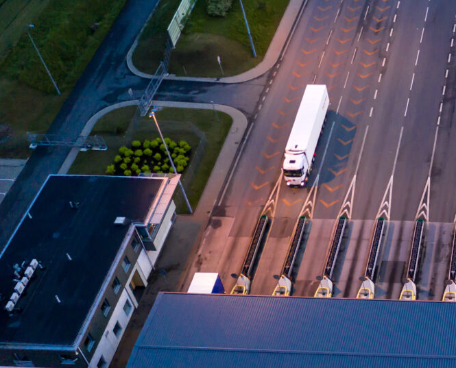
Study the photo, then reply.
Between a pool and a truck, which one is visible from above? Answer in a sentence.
Of the two, only a truck appears.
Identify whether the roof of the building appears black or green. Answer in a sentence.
The color of the roof of the building is black.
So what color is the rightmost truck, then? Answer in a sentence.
The color of the rightmost truck is white.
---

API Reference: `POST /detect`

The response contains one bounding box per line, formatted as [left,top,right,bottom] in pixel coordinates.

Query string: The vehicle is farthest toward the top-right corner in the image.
[279,90,329,196]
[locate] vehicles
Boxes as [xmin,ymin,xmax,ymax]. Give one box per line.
[279,90,329,196]
[188,272,225,292]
